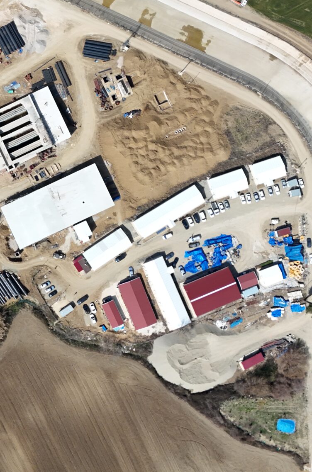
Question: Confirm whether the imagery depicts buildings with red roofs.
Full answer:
Yes, the frame does contain a building with a red roof.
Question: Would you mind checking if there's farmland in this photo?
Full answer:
Yes, there's farmland in this view.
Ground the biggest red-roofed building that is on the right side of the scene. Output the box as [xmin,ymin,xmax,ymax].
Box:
[181,267,242,316]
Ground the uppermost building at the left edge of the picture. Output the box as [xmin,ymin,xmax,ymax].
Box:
[0,86,72,172]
